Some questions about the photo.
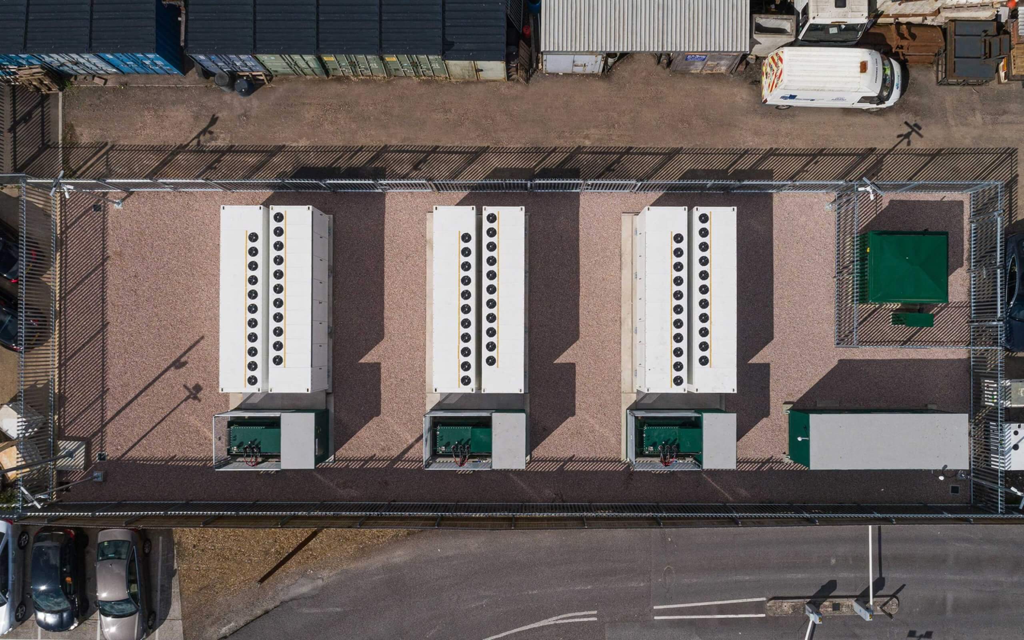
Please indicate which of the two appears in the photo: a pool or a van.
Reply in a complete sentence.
Visible in the photo is a van.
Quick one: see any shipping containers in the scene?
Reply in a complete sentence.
Yes, the photo shows a shipping container.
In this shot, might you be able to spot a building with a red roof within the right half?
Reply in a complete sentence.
No, there is no building with a red roof within the right half.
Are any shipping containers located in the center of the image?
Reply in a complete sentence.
Yes, a shipping container appears in the center of the image.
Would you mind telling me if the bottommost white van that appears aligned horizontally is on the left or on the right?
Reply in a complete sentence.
The bottommost white van that appears aligned horizontally sits on the right side.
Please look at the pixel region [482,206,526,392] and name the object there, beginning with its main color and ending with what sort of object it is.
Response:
white shipping container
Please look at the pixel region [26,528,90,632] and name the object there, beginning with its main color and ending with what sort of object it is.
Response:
black car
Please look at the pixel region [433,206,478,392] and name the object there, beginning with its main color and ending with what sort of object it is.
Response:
white shipping container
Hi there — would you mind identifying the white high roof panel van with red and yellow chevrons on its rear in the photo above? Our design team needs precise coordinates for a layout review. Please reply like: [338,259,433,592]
[763,46,900,112]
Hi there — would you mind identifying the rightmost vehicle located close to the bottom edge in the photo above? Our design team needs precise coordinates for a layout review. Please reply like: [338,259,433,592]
[88,529,153,640]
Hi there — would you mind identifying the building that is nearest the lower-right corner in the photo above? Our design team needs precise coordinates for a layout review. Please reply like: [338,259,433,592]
[786,409,968,469]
